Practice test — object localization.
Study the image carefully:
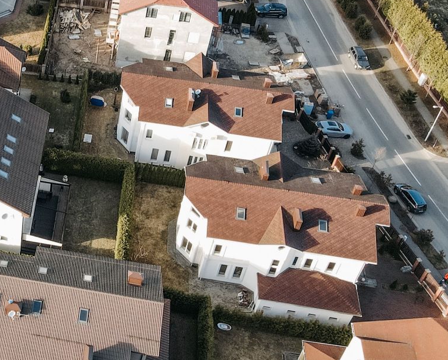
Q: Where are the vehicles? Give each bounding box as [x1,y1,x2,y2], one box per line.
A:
[256,1,290,18]
[346,42,374,67]
[394,178,435,213]
[315,119,358,138]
